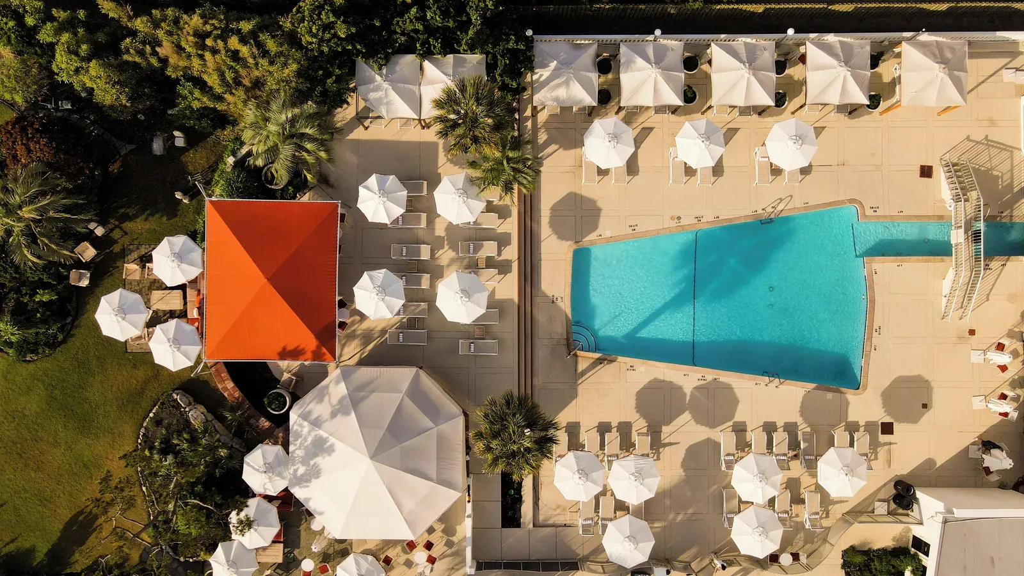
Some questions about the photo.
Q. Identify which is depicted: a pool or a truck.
pool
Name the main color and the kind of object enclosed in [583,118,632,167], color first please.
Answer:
white umbrella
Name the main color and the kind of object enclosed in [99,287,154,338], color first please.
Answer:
white umbrella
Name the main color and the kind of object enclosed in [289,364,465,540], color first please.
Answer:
white tent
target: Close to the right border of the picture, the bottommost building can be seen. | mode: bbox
[900,489,1024,576]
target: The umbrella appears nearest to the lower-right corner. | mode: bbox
[972,443,1016,469]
